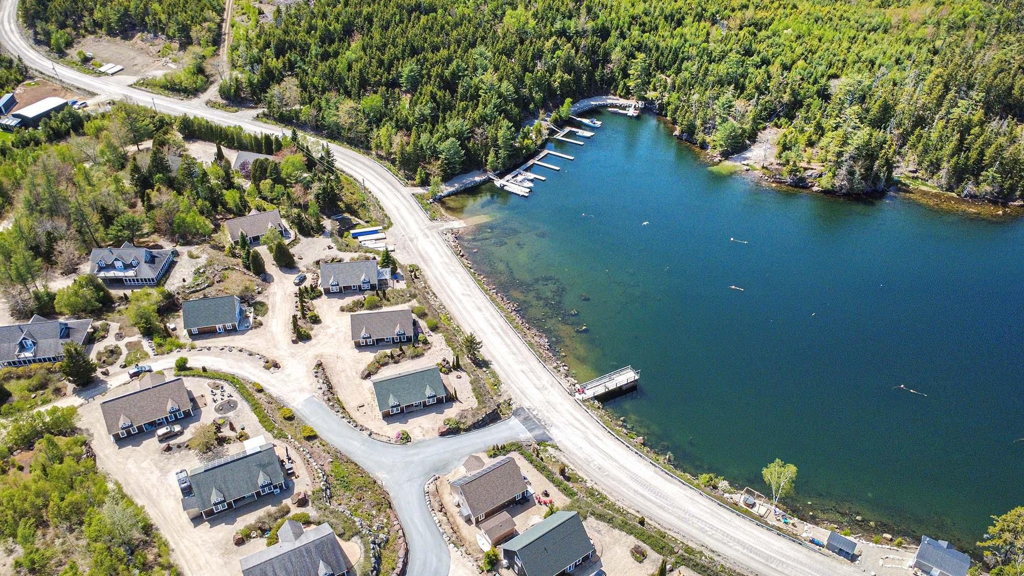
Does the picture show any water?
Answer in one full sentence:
Yes, water shows up in the scene.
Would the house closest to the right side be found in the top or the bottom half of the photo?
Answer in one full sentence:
You can find the house closest to the right side in the bottom half.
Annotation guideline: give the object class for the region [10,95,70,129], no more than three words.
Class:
barn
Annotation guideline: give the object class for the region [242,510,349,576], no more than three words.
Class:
house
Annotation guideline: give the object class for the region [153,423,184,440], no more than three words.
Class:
car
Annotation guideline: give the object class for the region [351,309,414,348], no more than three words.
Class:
house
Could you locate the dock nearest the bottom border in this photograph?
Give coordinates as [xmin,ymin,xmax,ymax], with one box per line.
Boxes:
[574,363,645,403]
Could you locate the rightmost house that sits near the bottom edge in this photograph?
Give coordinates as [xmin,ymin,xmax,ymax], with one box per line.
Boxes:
[909,530,970,576]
